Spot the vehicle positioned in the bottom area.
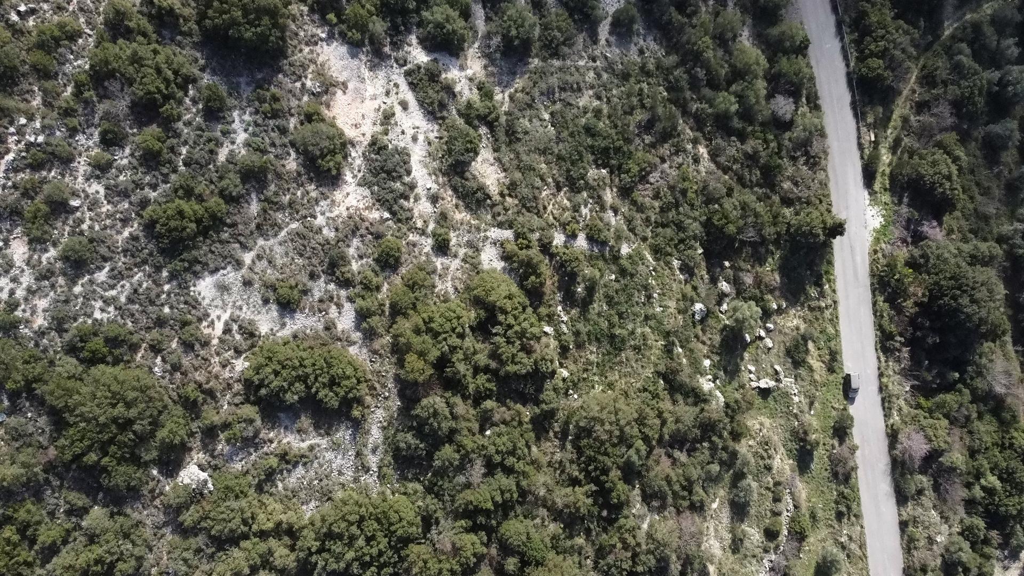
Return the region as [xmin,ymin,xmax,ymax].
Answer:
[846,372,861,399]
